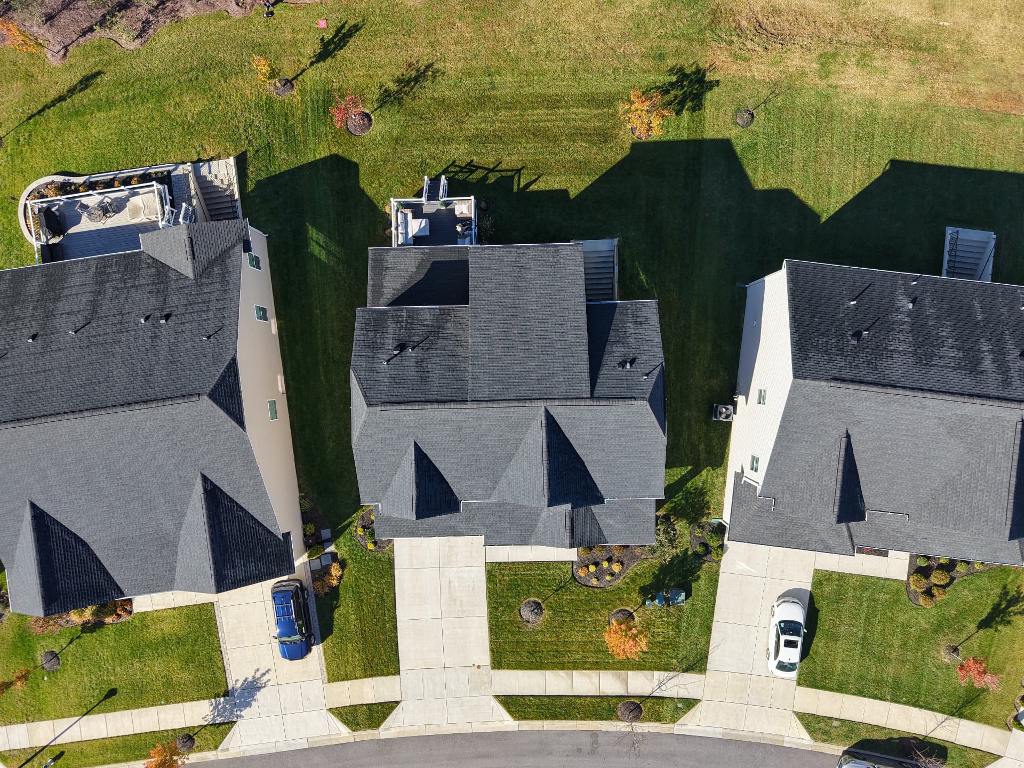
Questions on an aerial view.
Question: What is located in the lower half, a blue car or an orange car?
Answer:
blue car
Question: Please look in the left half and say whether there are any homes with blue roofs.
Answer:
No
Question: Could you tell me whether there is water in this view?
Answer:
No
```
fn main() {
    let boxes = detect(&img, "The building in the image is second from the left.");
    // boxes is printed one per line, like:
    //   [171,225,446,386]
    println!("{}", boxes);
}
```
[350,240,669,548]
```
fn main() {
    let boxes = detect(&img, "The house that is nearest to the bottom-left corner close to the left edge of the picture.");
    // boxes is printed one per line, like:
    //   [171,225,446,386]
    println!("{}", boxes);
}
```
[0,218,307,622]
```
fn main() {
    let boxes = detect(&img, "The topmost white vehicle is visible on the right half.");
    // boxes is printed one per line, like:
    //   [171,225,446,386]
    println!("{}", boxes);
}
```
[763,593,810,678]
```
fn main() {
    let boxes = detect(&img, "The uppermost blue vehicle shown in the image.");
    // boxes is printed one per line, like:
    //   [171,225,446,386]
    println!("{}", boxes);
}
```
[271,578,316,660]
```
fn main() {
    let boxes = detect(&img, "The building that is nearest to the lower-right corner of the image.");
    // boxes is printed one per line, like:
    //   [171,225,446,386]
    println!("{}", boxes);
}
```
[713,257,1024,569]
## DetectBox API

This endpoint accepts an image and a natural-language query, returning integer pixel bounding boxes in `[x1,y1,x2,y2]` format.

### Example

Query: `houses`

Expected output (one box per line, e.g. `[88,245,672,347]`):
[0,218,307,622]
[350,240,669,548]
[713,257,1024,569]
